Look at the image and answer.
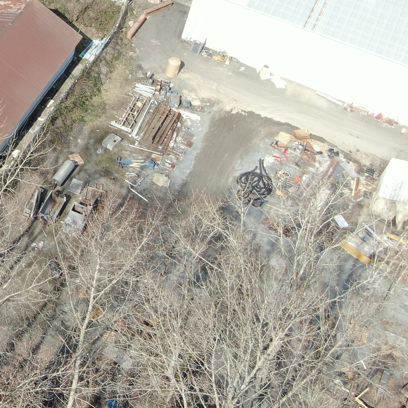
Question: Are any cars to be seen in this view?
No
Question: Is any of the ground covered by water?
No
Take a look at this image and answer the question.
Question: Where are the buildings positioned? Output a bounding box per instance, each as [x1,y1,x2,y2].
[0,0,85,157]
[180,0,408,128]
[367,156,408,233]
